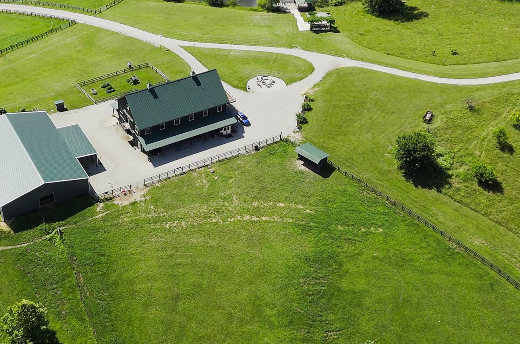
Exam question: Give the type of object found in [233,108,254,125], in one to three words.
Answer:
car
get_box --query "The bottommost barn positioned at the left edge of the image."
[0,111,99,221]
